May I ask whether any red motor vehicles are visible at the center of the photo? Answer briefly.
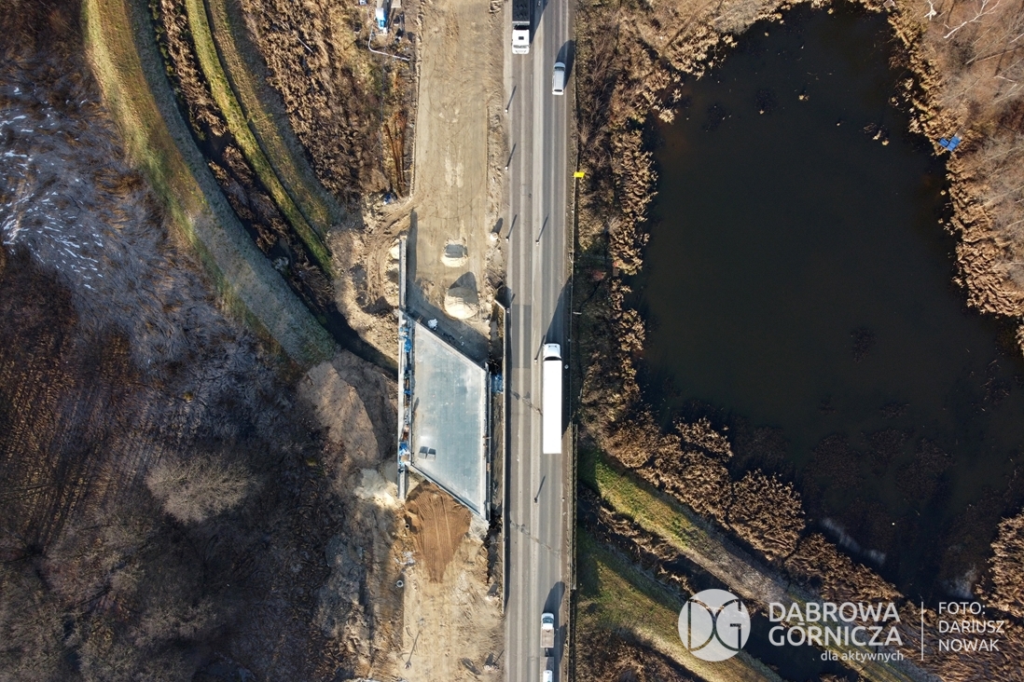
No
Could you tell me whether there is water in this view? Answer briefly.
Yes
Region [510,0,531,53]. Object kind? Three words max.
truck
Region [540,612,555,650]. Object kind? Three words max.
vehicle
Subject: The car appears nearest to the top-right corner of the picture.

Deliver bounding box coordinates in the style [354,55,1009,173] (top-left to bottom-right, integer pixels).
[552,63,566,95]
